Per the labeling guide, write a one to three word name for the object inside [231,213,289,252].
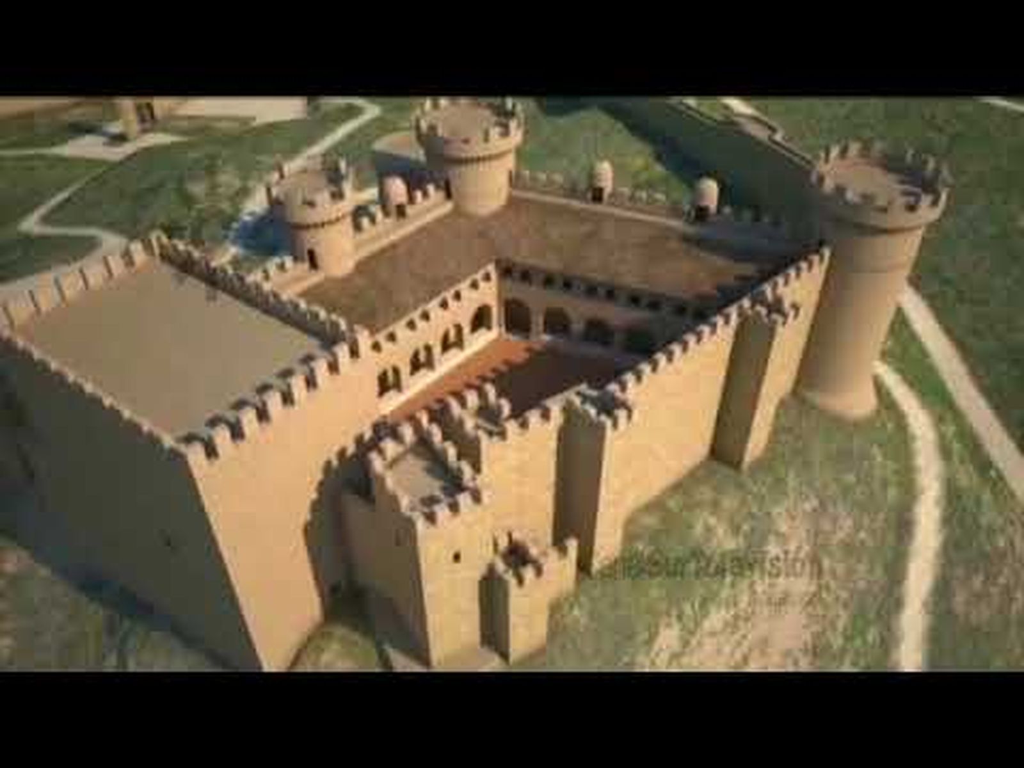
pond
